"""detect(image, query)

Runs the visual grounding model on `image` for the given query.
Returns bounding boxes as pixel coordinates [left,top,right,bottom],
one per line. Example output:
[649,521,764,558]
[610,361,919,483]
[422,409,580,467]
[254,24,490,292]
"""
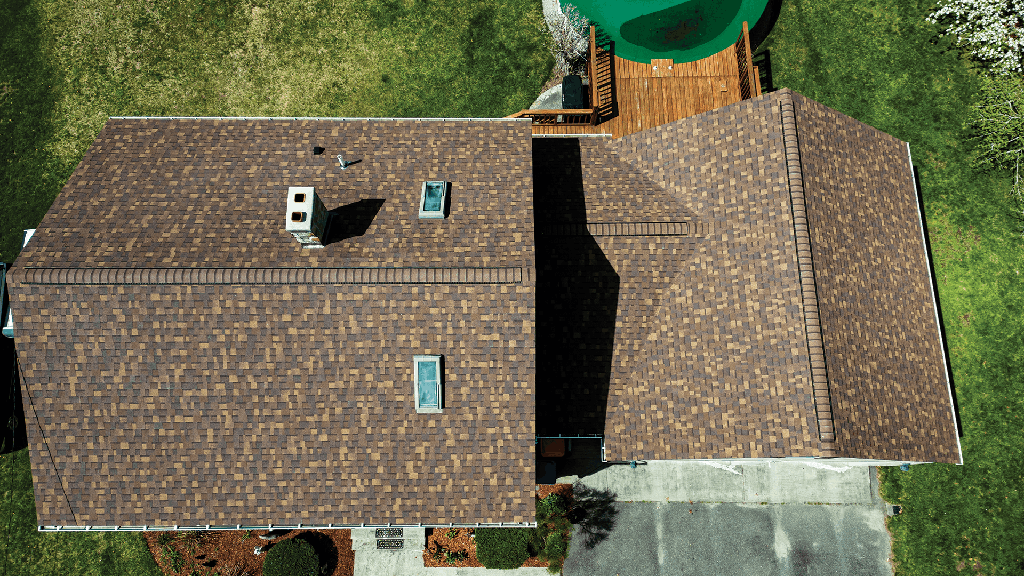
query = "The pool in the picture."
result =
[556,0,768,80]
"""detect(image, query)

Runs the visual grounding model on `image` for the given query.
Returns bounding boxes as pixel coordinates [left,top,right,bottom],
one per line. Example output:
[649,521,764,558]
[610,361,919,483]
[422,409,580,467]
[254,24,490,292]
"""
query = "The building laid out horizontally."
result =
[8,88,964,549]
